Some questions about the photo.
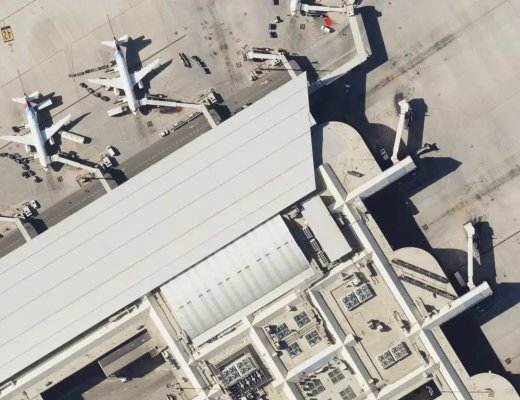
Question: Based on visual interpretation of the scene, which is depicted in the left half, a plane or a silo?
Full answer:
What appears in the left half is a plane.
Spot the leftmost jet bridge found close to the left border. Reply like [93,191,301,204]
[0,213,32,243]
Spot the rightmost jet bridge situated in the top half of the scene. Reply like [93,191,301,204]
[391,96,410,164]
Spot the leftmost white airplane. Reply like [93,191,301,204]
[0,92,69,172]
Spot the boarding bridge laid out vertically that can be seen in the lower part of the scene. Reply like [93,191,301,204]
[463,220,476,288]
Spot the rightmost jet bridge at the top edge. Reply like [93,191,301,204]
[299,0,372,94]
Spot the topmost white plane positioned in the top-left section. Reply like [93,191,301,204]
[88,36,158,115]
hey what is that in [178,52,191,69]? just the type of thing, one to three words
vehicle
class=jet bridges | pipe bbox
[243,51,297,80]
[299,0,372,94]
[0,213,32,243]
[463,220,476,288]
[137,98,218,128]
[50,154,113,193]
[391,96,410,164]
